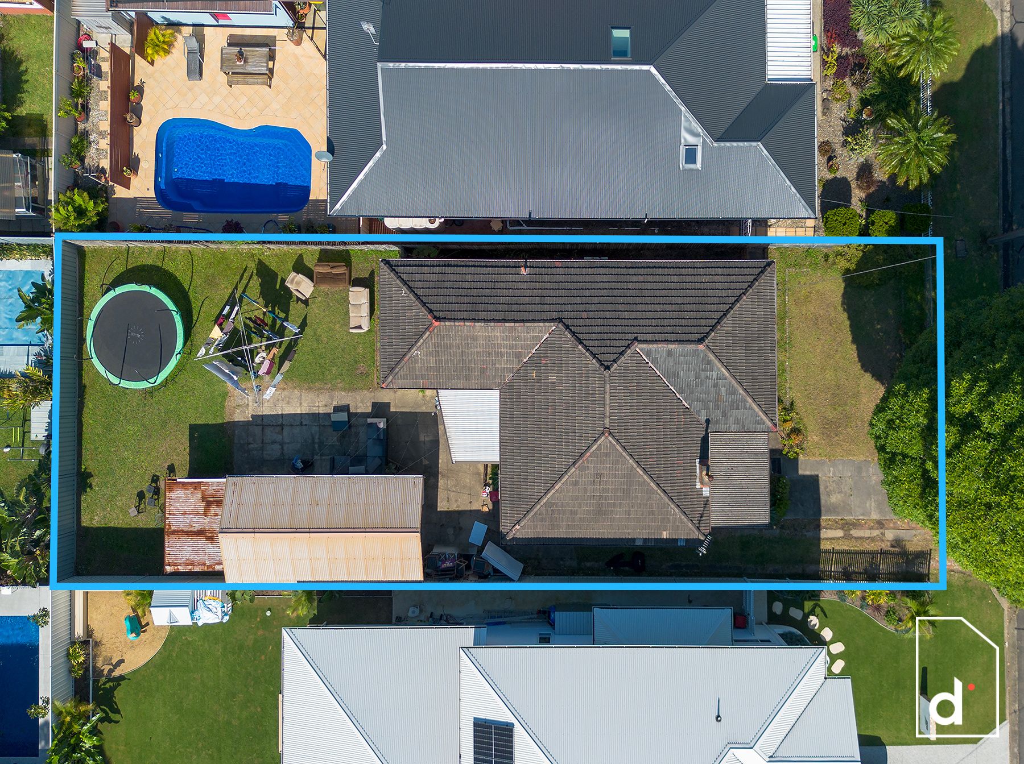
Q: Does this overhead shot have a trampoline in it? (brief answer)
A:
Yes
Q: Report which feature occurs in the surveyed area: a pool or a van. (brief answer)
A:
pool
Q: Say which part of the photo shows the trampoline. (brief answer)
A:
left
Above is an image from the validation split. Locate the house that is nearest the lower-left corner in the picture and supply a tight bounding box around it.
[151,586,206,625]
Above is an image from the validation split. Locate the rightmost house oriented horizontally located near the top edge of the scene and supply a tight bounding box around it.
[326,0,819,222]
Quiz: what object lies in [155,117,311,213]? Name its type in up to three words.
swimming pool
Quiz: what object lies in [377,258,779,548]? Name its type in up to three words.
house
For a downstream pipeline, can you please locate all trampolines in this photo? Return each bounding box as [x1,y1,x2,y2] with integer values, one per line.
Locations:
[74,281,189,395]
